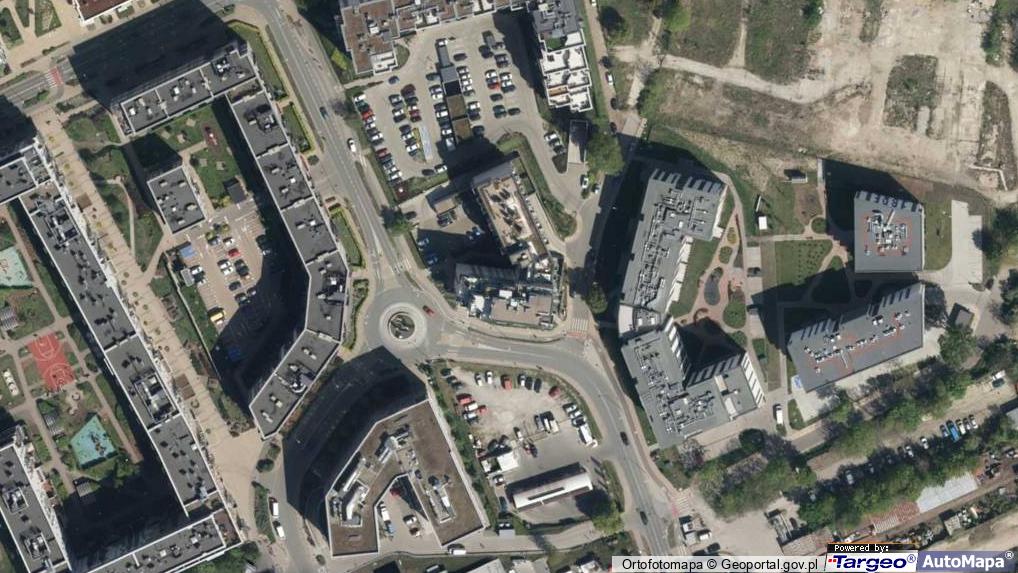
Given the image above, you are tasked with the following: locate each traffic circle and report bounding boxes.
[378,302,426,349]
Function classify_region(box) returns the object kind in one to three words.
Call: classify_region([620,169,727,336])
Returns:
building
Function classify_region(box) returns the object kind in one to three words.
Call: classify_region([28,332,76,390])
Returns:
basketball court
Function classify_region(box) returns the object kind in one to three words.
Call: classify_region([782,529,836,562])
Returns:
shed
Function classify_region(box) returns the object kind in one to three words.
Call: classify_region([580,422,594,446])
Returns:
vehicle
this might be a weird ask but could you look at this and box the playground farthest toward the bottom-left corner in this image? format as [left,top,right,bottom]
[70,416,115,464]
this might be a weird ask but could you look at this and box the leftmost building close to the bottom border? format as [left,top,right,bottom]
[0,431,83,573]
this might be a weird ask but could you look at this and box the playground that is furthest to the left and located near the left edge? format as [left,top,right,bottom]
[0,246,31,288]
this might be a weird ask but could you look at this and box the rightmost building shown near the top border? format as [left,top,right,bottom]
[531,0,594,112]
